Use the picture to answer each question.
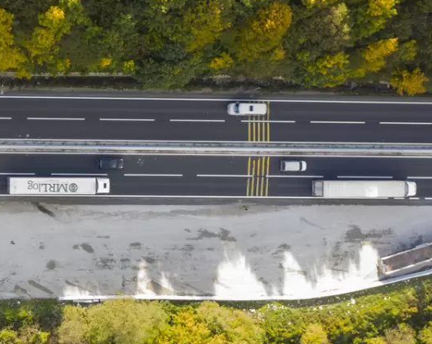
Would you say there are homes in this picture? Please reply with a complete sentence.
No, no home can be seen from above.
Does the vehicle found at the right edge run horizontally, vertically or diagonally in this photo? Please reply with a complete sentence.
The vehicle found at the right edge runs horizontally in the image.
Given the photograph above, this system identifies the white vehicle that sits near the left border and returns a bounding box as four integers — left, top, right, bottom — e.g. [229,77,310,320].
[6,175,107,195]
